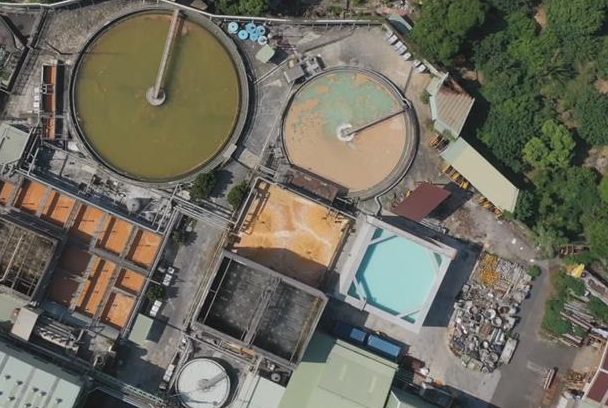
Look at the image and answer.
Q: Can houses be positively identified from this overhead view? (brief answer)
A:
Yes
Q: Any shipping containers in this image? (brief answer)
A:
Yes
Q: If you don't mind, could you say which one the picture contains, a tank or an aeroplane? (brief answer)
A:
tank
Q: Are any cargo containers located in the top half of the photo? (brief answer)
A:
No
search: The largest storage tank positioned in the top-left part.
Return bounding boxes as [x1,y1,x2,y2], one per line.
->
[70,5,249,185]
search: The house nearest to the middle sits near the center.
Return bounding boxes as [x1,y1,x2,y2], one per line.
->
[284,168,338,202]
